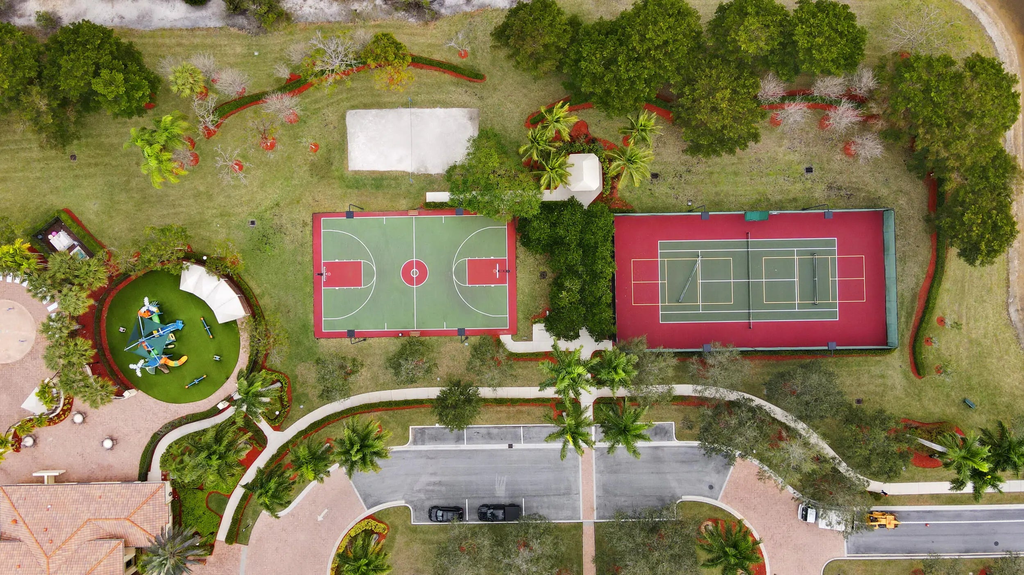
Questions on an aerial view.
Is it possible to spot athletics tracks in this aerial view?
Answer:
No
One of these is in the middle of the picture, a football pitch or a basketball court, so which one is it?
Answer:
basketball court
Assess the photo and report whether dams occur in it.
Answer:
No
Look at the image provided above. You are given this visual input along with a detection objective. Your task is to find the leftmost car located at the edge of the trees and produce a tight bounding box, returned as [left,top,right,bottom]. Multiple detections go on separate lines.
[429,507,464,525]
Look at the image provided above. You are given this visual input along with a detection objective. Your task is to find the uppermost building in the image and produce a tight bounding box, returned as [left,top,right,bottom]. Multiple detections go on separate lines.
[566,153,599,192]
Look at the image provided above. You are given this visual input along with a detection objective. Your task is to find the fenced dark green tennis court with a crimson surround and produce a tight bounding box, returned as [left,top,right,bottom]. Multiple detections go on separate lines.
[612,211,888,349]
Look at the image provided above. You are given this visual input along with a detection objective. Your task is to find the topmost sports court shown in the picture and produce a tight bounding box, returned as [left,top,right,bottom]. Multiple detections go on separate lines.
[347,108,478,174]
